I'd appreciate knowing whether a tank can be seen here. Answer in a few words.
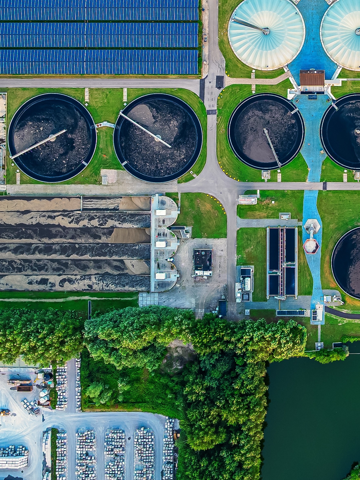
Yes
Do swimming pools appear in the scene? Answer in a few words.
No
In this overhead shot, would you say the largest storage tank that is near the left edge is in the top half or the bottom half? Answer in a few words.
top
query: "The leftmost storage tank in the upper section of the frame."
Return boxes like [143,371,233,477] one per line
[7,93,96,183]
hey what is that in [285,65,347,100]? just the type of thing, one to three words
building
